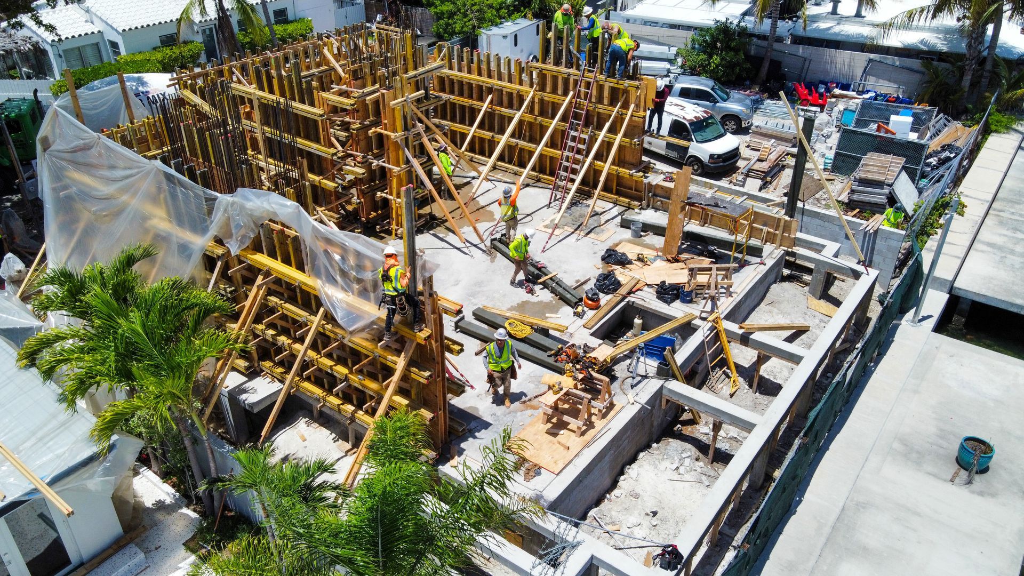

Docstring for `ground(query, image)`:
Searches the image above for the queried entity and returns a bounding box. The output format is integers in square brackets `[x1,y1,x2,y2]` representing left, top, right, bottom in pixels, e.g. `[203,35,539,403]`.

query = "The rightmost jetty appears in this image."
[948,141,1024,323]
